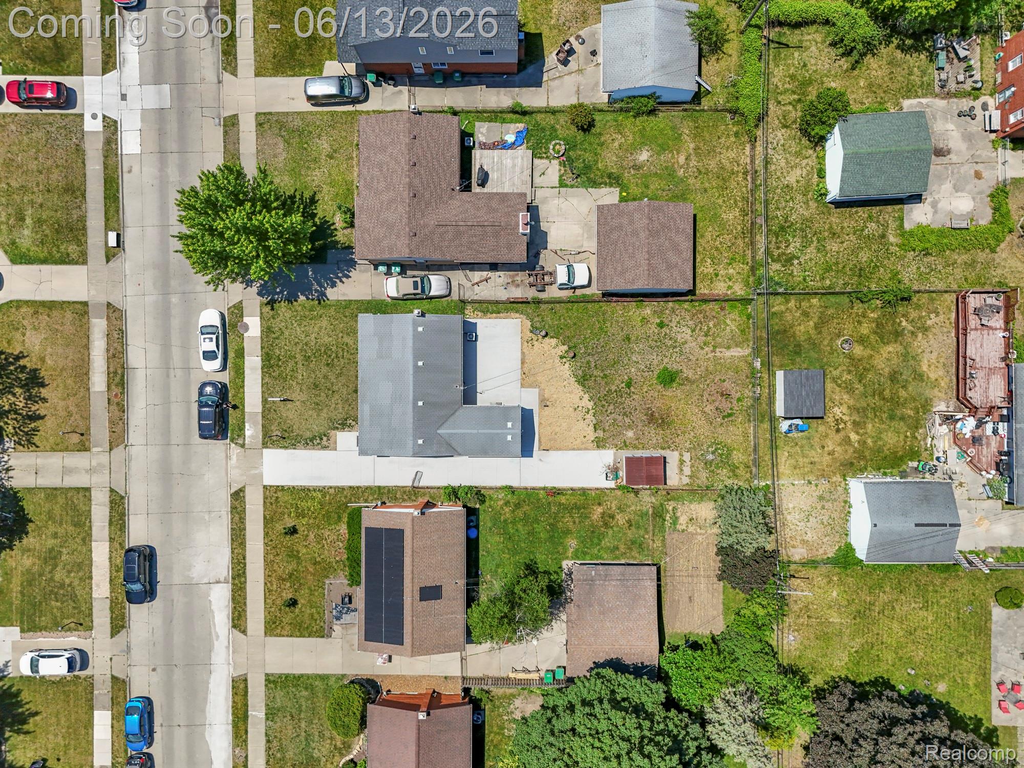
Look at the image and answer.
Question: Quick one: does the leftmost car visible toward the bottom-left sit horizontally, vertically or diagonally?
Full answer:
The leftmost car visible toward the bottom-left is oriented horizontally.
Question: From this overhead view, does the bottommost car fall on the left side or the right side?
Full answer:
The bottommost car appears in the left half of the scene.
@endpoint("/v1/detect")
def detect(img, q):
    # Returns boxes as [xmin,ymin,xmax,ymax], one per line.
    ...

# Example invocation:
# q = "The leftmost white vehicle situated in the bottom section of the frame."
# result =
[22,647,84,677]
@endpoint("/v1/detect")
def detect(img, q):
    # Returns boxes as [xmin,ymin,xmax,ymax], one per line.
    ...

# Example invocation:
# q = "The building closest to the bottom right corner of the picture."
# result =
[848,478,961,564]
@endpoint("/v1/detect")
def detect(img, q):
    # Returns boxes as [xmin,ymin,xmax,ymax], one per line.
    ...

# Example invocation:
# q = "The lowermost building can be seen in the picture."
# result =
[367,683,472,768]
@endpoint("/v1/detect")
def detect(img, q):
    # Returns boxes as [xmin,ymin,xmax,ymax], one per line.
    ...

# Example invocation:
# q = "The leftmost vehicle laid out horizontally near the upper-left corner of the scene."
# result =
[8,77,72,109]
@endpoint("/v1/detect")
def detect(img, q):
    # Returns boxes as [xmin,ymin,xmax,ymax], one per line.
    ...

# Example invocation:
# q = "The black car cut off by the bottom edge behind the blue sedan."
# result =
[127,747,155,768]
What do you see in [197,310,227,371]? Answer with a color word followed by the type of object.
white car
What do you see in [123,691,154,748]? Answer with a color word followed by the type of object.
blue car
